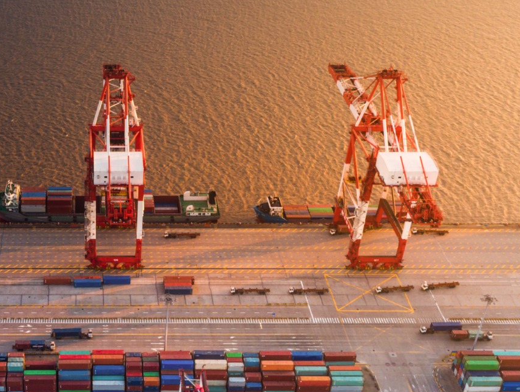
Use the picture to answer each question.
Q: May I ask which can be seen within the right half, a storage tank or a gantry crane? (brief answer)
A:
gantry crane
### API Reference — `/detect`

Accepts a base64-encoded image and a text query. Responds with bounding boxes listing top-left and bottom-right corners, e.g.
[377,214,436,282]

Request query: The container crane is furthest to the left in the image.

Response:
[85,59,147,269]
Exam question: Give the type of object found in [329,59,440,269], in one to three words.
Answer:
container crane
